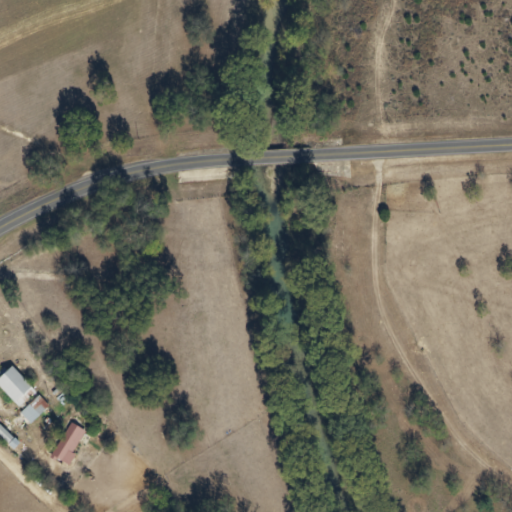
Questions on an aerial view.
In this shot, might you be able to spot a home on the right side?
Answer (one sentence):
No, there is no home on the right side.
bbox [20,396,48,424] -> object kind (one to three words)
shed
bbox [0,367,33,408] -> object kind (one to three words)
barn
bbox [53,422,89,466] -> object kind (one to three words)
house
